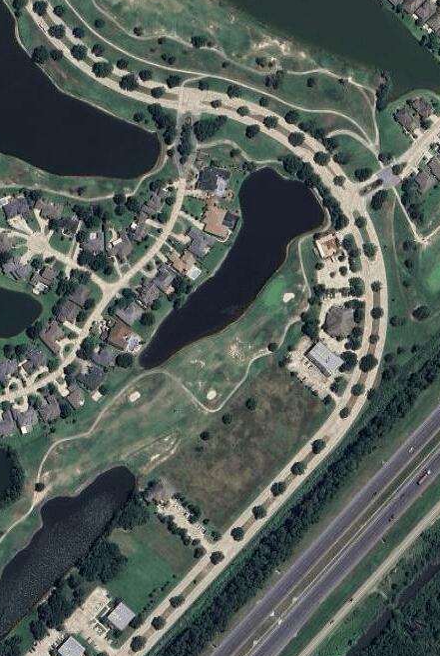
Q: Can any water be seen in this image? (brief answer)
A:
Yes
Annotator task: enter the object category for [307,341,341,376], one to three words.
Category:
building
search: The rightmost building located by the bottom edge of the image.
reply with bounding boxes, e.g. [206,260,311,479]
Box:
[109,603,136,630]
